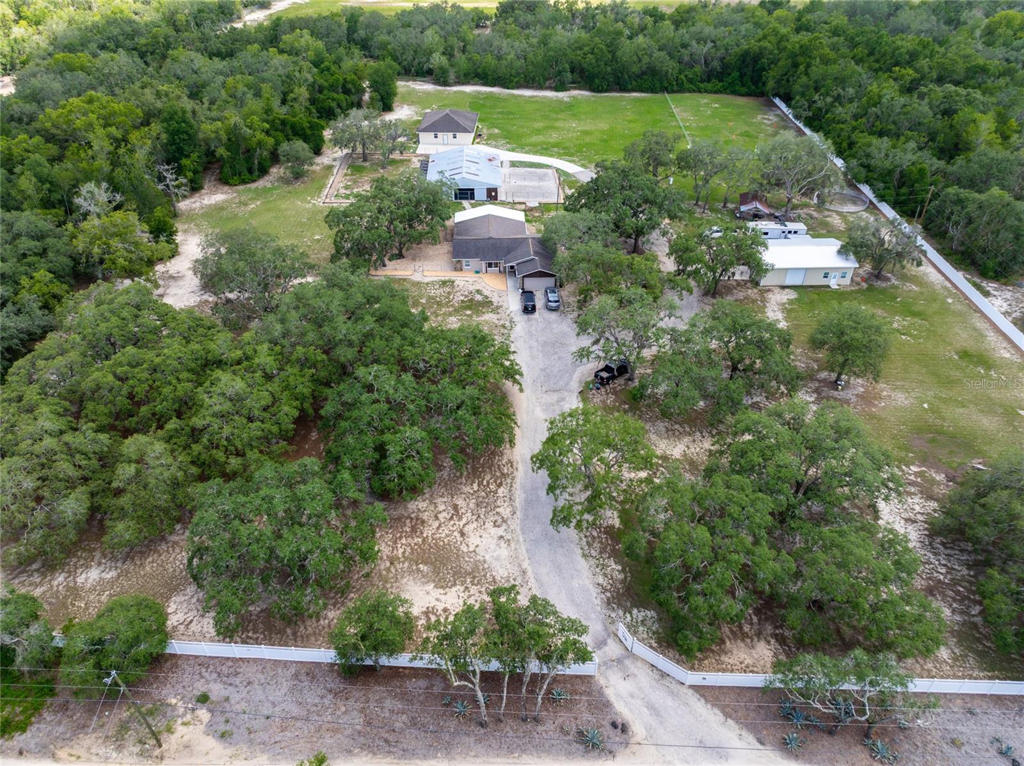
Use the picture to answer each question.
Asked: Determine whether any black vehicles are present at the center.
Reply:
Yes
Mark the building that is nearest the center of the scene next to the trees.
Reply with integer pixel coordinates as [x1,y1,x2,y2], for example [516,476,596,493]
[451,203,569,289]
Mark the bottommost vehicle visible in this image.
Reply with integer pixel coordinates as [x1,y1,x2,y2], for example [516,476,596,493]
[599,356,632,386]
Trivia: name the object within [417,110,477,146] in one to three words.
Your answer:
building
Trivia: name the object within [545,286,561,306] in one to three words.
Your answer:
car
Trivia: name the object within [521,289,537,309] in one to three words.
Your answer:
car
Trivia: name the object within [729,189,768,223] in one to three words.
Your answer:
shed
